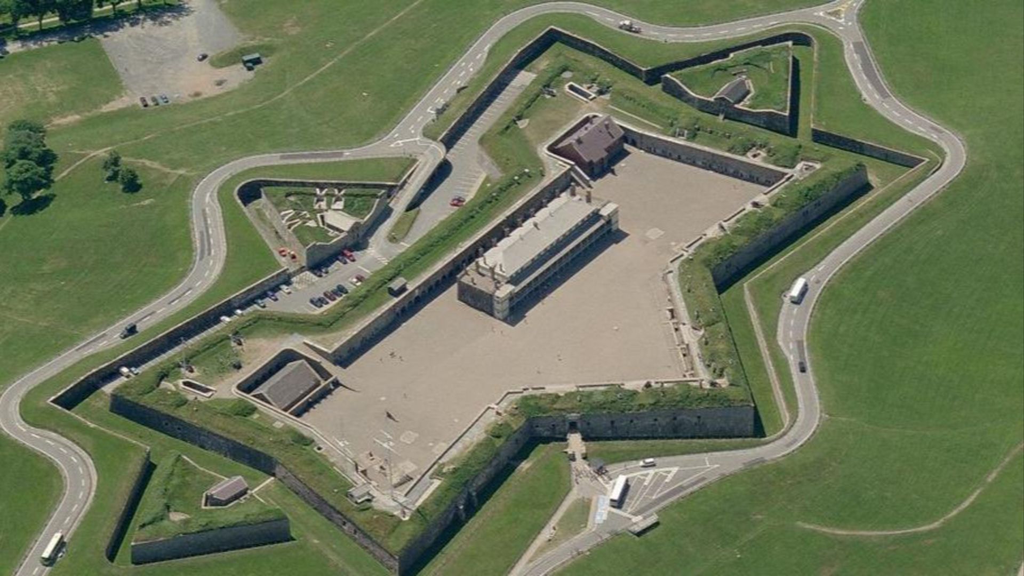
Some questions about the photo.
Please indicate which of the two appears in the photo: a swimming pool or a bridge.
bridge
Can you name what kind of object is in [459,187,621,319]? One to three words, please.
building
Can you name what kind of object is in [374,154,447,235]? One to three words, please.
bridge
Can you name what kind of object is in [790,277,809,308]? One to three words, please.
vehicle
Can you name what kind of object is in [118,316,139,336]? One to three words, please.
vehicle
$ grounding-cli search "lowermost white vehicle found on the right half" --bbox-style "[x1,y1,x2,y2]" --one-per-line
[611,474,630,508]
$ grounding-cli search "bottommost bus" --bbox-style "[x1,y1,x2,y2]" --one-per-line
[43,530,67,566]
